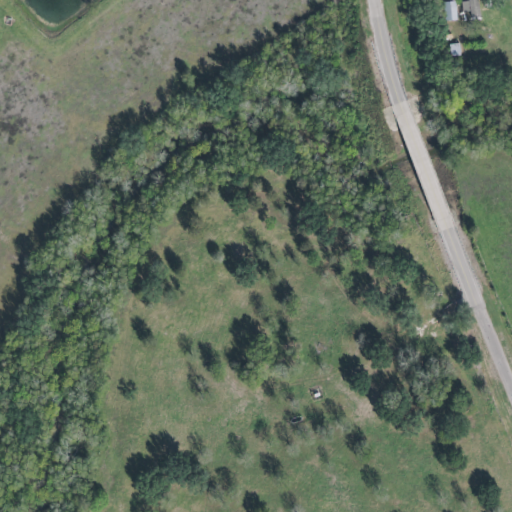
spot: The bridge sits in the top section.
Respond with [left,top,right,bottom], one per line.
[391,99,455,231]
